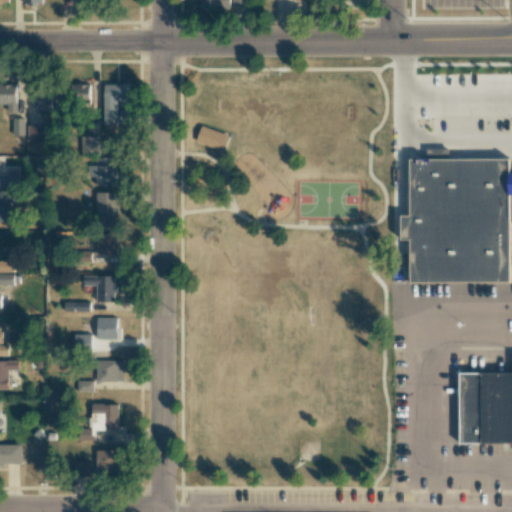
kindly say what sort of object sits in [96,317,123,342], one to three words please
house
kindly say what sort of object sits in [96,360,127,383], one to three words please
house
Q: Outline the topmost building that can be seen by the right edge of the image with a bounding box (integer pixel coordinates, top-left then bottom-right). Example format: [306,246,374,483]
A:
[400,150,512,282]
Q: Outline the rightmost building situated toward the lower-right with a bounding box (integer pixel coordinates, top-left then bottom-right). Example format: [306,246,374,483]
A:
[460,372,512,444]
